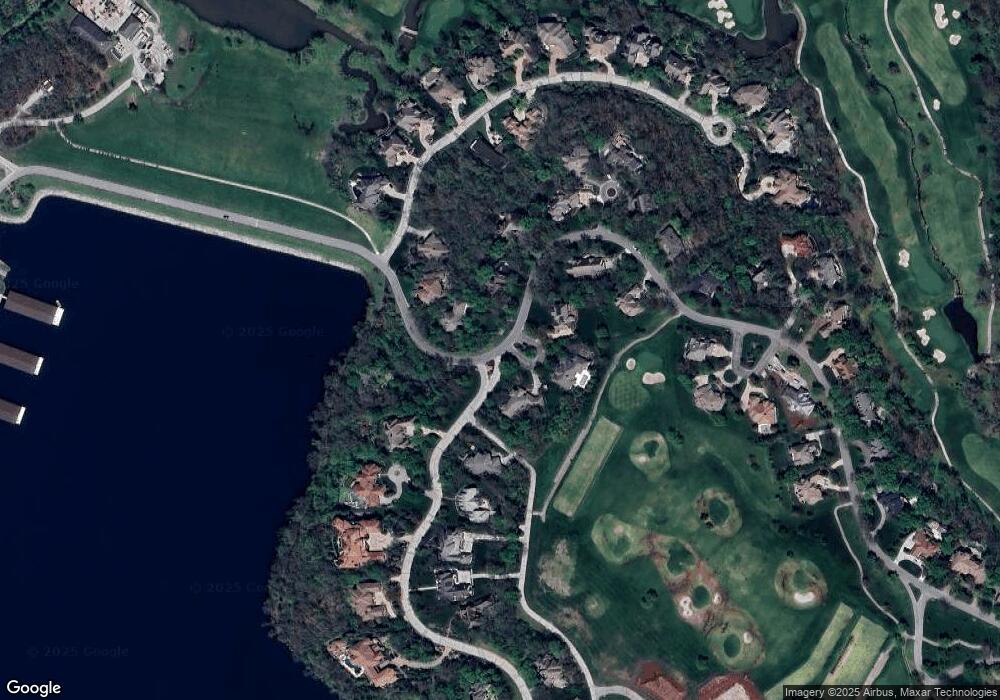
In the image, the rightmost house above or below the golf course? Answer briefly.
below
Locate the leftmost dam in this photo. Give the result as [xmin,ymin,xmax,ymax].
[0,185,369,286]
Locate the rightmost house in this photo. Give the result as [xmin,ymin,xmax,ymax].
[948,548,990,587]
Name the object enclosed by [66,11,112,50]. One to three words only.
shed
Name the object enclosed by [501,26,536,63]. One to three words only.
house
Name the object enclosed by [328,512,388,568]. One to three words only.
house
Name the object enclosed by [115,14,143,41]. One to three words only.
shed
